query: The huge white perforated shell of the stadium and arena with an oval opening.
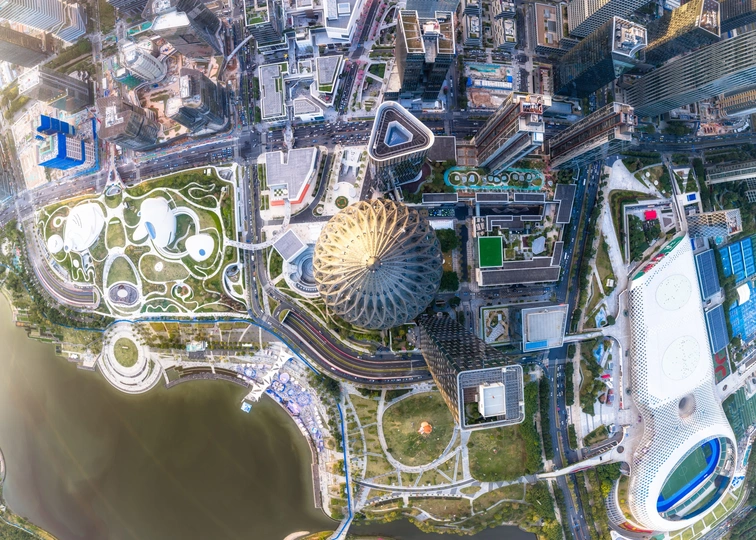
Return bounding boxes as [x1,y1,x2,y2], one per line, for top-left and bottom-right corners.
[608,235,741,538]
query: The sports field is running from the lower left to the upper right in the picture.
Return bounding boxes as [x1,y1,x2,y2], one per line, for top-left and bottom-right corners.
[663,447,718,502]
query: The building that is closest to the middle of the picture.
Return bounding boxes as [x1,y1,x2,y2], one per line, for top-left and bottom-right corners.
[313,205,441,332]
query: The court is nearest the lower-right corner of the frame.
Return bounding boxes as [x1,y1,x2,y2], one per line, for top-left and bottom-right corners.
[713,346,733,386]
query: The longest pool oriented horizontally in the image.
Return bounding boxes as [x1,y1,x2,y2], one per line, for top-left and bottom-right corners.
[443,165,546,192]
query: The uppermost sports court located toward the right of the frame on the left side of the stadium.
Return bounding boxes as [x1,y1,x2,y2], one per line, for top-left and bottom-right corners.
[481,238,502,267]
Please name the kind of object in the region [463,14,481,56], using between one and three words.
building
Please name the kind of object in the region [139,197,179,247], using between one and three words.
building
